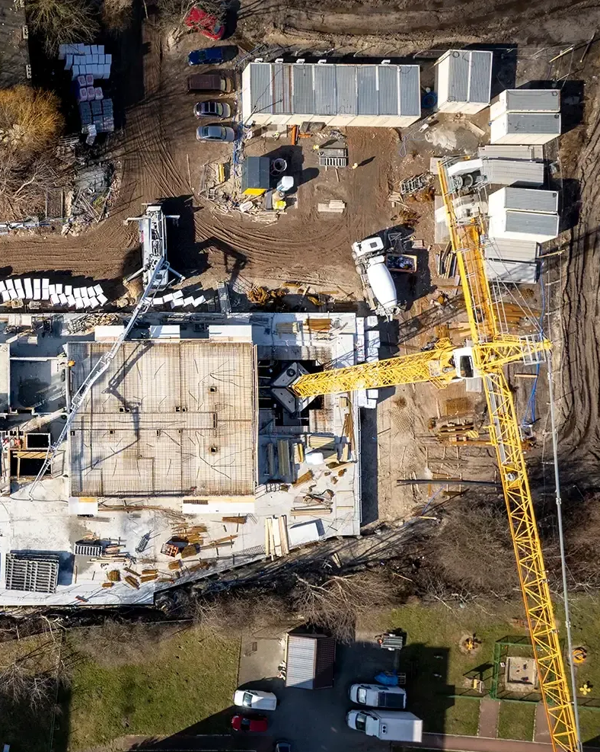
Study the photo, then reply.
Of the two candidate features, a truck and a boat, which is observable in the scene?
truck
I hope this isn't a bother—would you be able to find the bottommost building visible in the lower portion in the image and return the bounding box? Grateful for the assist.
[281,632,336,693]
